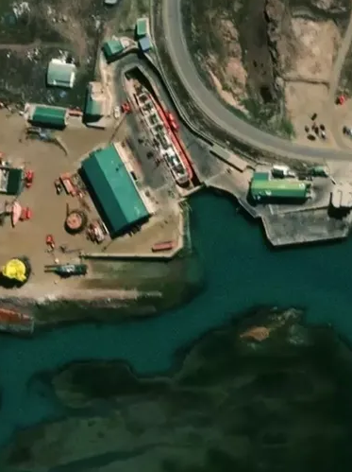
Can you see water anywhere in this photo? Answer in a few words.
Yes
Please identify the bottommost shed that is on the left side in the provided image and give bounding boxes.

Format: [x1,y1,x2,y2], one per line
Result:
[83,142,155,232]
